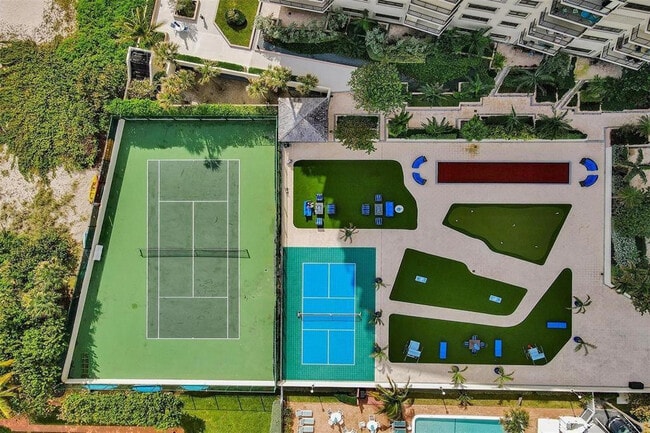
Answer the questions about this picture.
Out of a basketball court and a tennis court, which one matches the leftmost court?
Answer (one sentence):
I'd say the leftmost court is a tennis court.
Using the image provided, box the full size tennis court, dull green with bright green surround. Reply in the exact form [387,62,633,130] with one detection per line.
[72,120,276,378]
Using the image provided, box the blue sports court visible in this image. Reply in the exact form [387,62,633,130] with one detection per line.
[284,247,375,381]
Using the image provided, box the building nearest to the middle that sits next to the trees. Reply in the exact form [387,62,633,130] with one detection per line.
[278,98,329,142]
